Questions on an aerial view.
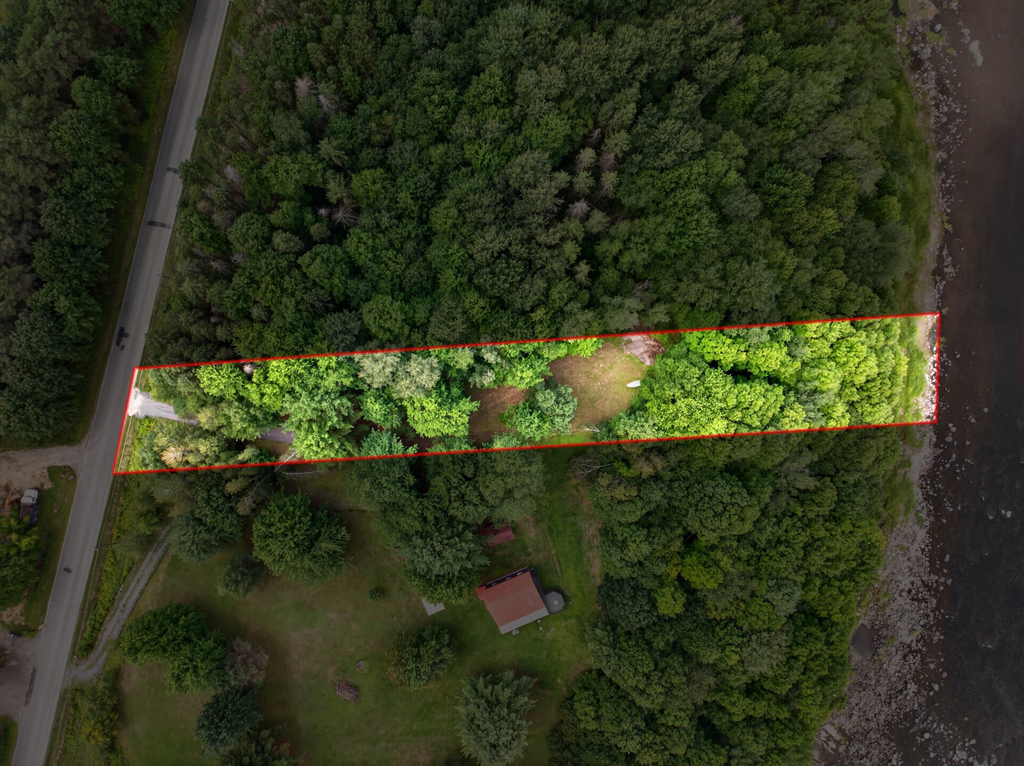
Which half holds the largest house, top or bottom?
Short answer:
bottom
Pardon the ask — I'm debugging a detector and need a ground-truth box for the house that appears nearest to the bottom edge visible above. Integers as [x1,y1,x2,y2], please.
[477,565,548,633]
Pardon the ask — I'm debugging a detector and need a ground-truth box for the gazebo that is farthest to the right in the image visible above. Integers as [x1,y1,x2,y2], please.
[545,590,565,612]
